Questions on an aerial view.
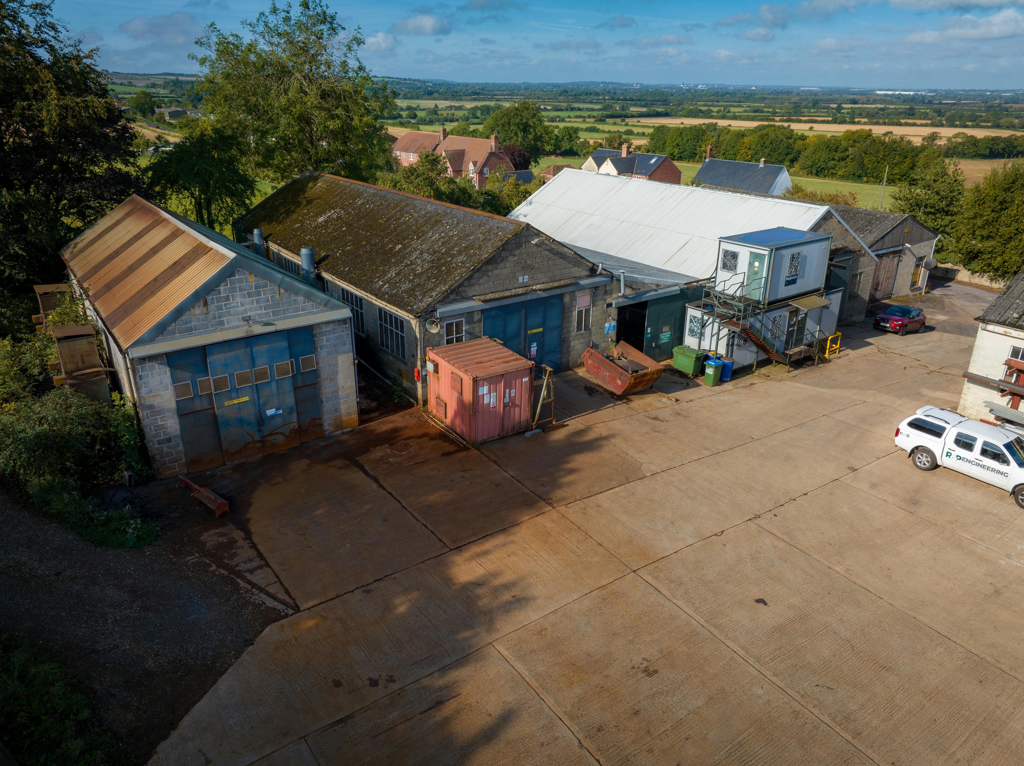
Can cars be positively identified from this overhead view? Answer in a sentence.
Yes, looking at the shot, I can spot a car.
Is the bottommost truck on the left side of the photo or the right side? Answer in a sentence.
The bottommost truck is on the right side of the image.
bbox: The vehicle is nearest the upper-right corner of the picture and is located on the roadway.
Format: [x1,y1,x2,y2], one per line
[874,304,929,336]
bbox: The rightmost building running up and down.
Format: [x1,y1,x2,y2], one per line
[957,261,1024,423]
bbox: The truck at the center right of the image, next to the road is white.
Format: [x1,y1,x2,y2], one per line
[890,402,1024,511]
